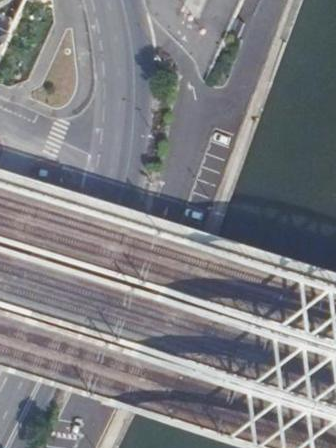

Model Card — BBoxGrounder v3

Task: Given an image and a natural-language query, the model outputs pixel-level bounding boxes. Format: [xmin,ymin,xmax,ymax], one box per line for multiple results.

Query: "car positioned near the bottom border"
[70,417,82,435]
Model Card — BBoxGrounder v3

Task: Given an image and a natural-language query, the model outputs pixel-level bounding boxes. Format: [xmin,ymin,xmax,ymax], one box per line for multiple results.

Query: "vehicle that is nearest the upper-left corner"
[32,167,52,180]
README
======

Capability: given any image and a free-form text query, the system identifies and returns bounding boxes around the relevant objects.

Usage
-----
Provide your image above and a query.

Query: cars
[184,207,204,219]
[32,167,52,180]
[212,132,232,146]
[70,417,82,435]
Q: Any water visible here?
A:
Yes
